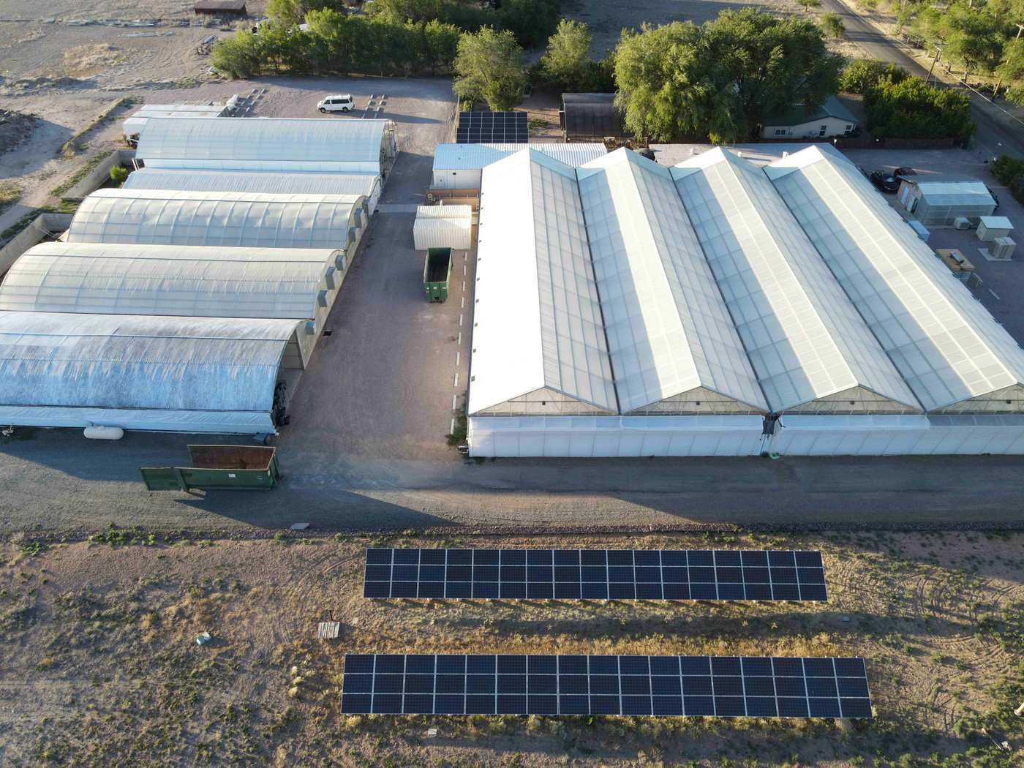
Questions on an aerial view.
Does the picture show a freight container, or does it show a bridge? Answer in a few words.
freight container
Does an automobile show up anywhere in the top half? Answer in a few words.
Yes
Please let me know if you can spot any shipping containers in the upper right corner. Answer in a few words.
No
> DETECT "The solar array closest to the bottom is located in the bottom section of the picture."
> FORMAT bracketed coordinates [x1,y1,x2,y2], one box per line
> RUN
[339,653,870,721]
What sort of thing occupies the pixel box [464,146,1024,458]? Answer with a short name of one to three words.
greenhouse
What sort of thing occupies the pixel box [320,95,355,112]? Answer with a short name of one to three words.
vehicle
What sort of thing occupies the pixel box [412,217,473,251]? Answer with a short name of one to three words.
shipping container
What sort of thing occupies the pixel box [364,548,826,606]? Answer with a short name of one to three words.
solar array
